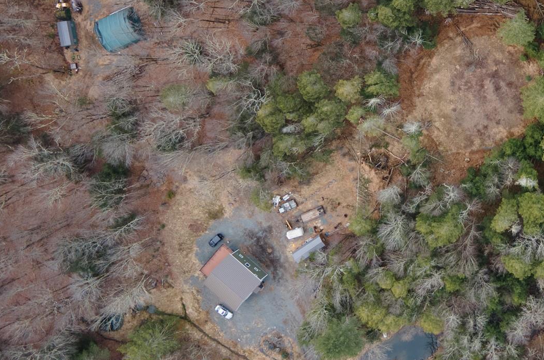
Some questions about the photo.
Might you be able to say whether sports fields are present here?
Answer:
No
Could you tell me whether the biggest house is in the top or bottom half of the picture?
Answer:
bottom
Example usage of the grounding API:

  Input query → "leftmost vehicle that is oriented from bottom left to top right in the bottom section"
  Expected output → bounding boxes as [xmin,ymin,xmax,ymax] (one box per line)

[207,231,227,248]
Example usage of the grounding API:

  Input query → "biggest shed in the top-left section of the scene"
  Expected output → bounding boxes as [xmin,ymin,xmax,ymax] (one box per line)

[58,21,80,47]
